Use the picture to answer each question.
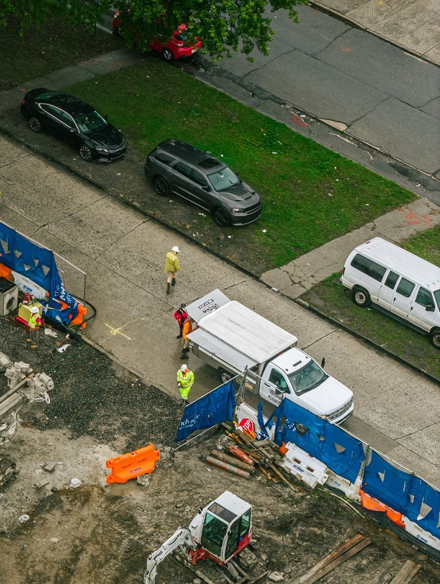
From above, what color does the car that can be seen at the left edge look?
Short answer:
black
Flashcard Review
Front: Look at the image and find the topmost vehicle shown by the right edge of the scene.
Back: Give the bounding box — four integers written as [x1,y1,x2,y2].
[327,222,440,344]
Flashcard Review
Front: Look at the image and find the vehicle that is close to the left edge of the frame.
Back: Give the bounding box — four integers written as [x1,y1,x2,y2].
[17,81,140,157]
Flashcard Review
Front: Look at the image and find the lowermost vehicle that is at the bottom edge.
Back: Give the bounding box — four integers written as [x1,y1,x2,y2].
[145,491,284,584]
